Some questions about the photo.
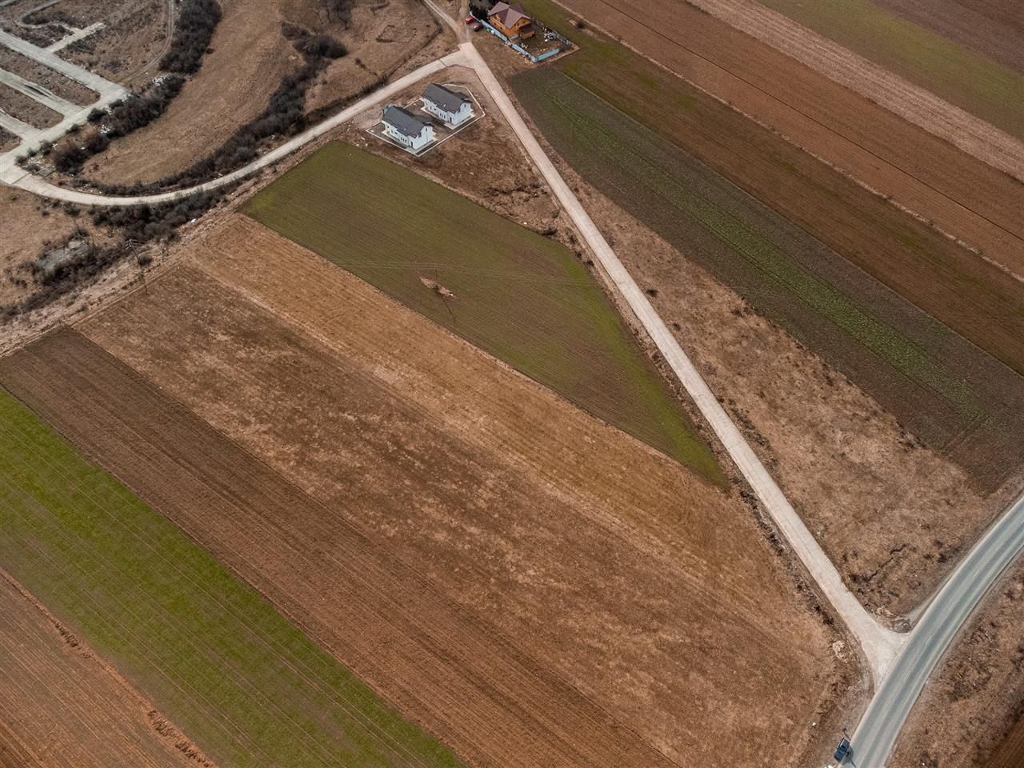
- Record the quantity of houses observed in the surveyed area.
3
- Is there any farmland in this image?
Yes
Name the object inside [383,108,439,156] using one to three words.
house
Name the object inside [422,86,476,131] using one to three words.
house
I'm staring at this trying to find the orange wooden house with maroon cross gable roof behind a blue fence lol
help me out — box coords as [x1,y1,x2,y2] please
[490,4,534,41]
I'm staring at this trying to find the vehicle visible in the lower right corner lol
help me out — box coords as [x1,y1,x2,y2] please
[835,737,853,761]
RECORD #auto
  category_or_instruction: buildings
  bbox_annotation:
[383,108,439,156]
[490,4,534,41]
[422,86,476,131]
